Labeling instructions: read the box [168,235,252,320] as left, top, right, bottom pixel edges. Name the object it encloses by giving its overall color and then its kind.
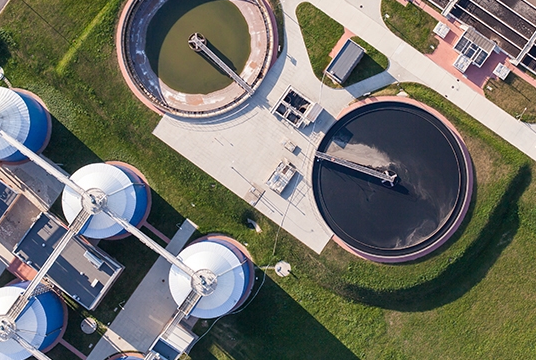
white storage tank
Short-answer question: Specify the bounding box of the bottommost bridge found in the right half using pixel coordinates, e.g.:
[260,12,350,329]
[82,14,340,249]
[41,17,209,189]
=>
[318,151,396,184]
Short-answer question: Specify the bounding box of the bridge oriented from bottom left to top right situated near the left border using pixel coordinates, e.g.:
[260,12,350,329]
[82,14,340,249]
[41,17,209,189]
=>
[8,209,92,318]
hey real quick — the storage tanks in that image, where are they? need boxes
[61,160,150,240]
[117,0,277,115]
[0,276,65,360]
[0,85,50,166]
[168,235,252,320]
[314,98,474,263]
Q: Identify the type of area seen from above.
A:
industrial area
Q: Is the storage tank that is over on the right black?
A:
Yes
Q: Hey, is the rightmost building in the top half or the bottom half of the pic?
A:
top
